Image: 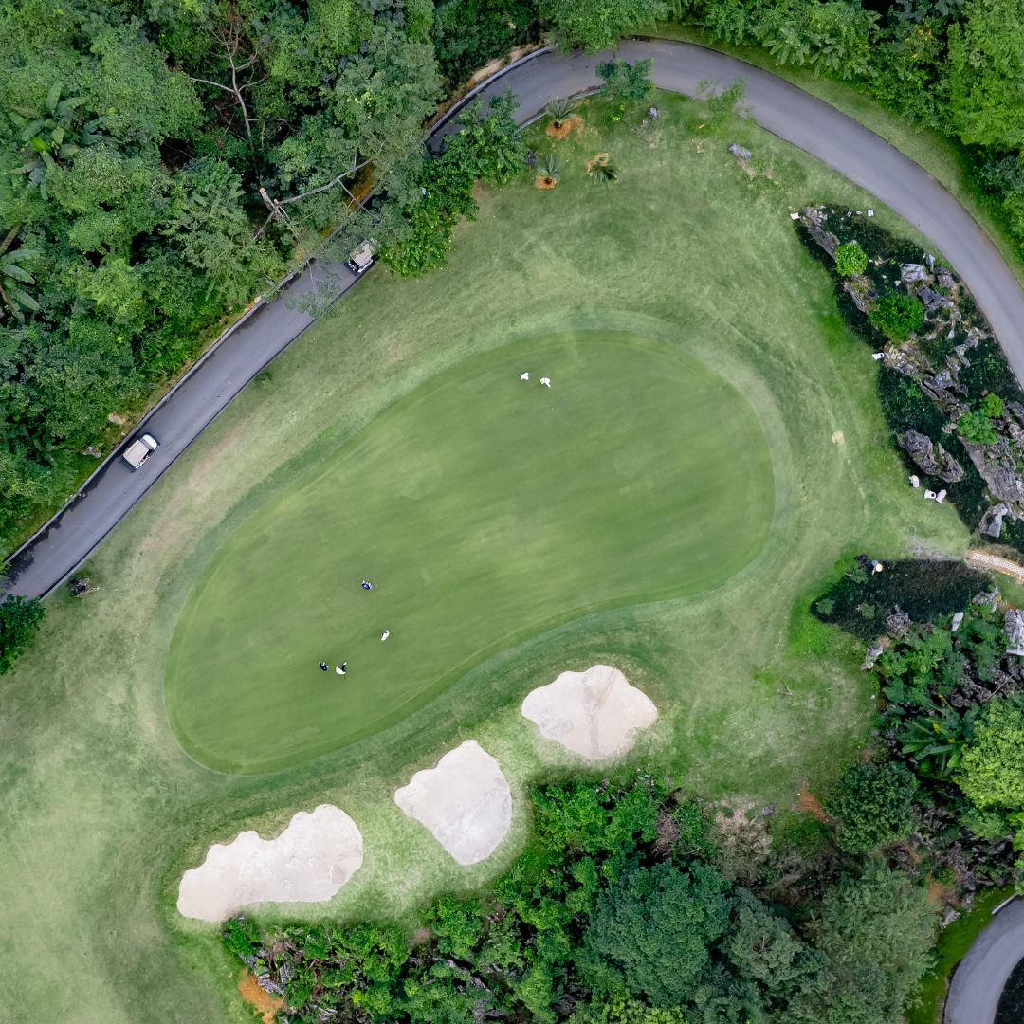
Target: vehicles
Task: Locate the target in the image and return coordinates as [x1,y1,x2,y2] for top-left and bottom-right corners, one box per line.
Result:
[346,241,379,276]
[122,435,159,468]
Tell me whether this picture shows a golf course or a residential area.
golf course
